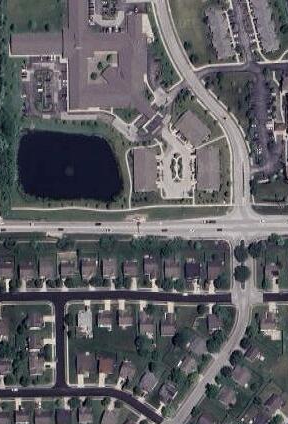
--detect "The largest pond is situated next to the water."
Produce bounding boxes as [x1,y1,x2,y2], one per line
[17,129,125,201]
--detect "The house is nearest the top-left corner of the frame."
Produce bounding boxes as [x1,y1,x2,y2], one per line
[12,0,159,122]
